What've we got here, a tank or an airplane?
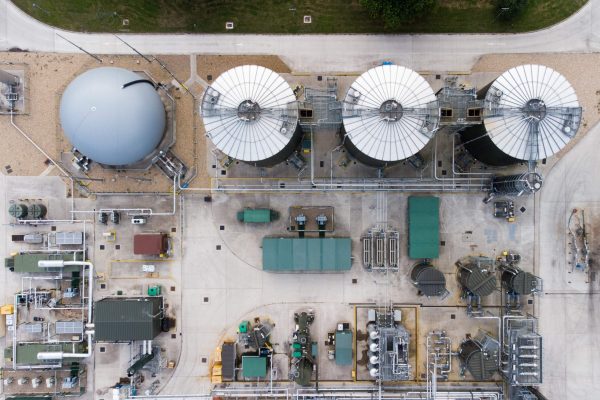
tank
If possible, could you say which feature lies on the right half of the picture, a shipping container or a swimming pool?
shipping container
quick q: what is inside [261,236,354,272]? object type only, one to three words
house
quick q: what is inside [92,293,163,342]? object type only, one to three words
building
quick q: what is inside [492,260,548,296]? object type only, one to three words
storage tank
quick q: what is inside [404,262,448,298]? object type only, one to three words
storage tank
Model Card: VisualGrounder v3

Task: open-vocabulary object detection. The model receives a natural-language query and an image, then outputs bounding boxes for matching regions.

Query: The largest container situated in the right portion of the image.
[403,196,439,259]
